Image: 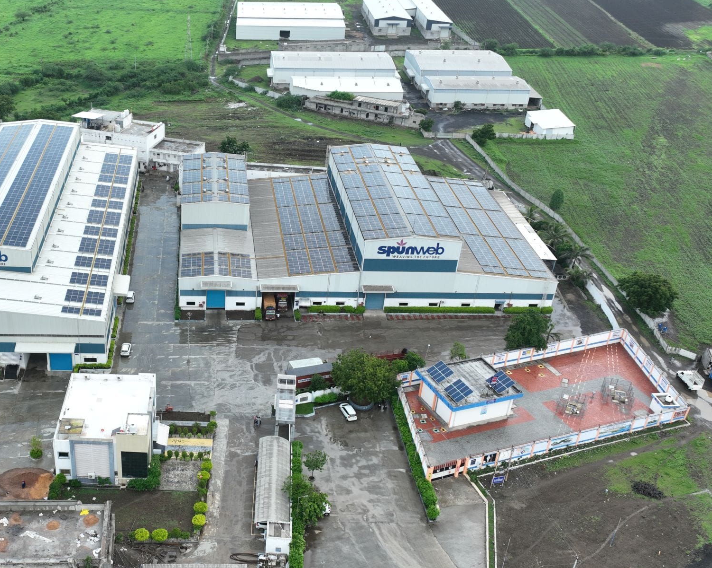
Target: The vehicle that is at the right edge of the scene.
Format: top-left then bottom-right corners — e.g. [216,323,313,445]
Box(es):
[682,371,709,393]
